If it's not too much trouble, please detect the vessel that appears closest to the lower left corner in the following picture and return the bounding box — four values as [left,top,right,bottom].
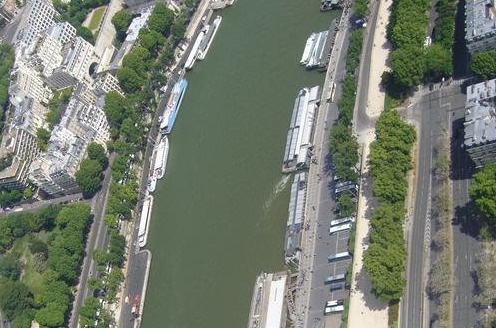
[137,195,155,247]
